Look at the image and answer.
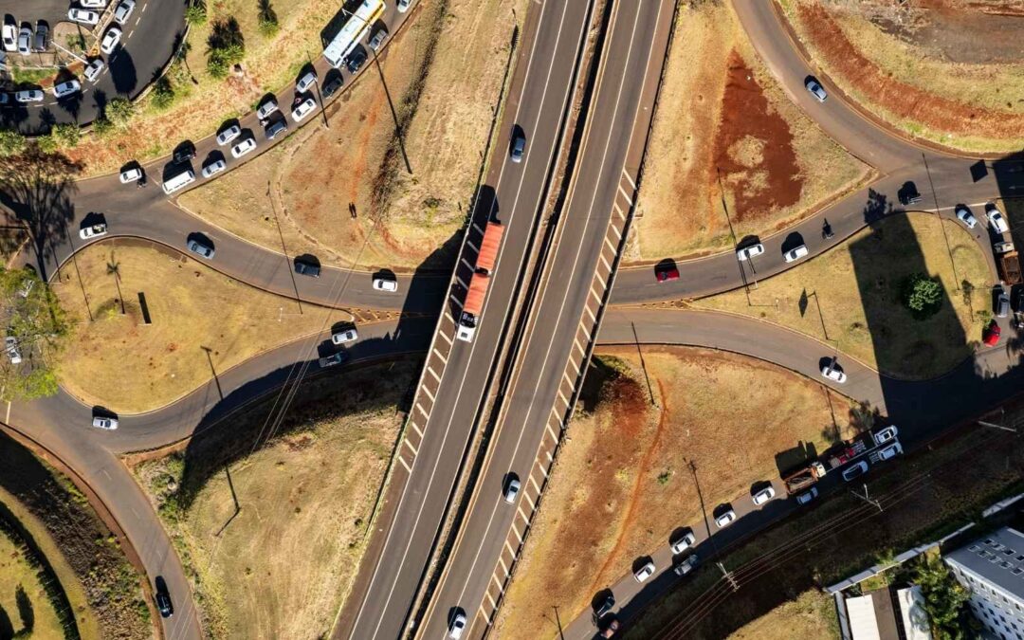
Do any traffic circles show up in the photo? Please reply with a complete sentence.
Yes, a traffic circle is visible in the scene.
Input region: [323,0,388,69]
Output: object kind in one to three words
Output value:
bus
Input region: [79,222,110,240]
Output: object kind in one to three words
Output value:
vehicle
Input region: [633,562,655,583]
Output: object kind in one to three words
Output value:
car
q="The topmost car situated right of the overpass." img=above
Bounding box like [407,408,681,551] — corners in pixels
[805,79,827,101]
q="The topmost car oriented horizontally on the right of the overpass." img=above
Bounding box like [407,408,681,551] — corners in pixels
[893,191,921,206]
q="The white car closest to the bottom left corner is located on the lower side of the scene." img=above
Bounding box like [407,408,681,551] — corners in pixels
[92,416,120,429]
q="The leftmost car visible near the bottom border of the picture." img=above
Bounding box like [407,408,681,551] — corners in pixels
[157,593,173,617]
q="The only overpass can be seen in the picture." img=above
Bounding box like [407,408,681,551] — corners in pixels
[330,0,676,640]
